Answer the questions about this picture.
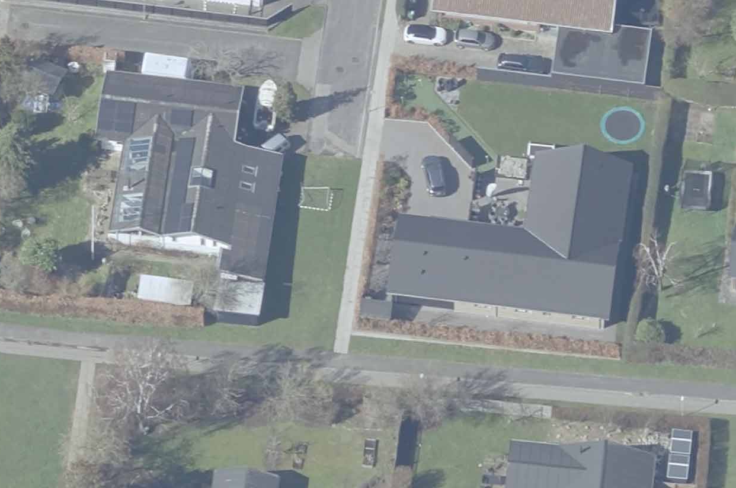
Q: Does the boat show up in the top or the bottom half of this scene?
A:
top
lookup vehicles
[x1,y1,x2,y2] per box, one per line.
[405,26,447,49]
[452,27,497,52]
[498,53,546,76]
[422,158,449,198]
[256,129,294,151]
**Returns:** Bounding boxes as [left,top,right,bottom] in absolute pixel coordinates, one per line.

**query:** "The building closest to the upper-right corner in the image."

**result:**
[551,26,654,96]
